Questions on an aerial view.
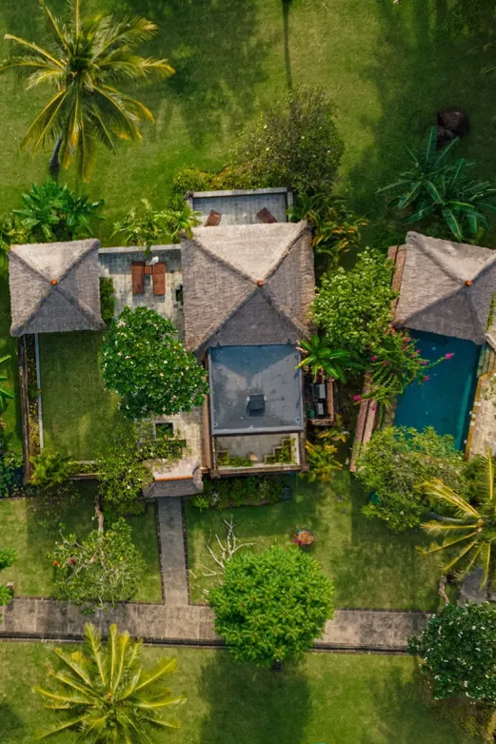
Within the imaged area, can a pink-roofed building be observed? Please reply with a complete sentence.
No, I can see no pink-roofed building in this picture.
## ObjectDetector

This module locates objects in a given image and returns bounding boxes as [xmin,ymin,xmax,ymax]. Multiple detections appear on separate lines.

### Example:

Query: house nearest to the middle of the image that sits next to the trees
[182,221,315,477]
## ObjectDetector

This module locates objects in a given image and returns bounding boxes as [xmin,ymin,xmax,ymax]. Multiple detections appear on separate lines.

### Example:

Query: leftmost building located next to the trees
[8,239,105,336]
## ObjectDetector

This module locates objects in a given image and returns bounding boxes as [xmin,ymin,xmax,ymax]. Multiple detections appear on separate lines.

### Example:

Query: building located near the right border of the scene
[394,233,496,344]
